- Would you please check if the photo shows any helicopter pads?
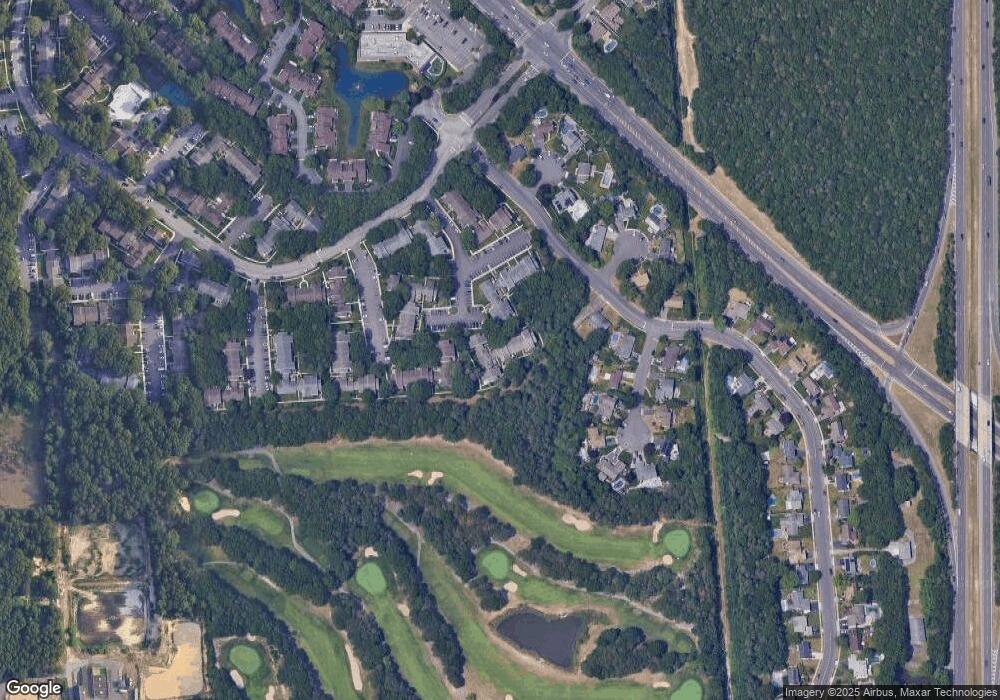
No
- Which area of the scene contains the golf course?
bottom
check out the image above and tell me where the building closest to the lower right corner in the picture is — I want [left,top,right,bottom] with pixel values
[909,618,927,645]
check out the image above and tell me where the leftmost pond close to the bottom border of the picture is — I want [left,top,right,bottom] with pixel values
[498,610,585,669]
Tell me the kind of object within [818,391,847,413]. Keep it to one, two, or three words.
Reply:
house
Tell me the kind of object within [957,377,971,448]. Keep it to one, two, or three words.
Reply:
bridge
